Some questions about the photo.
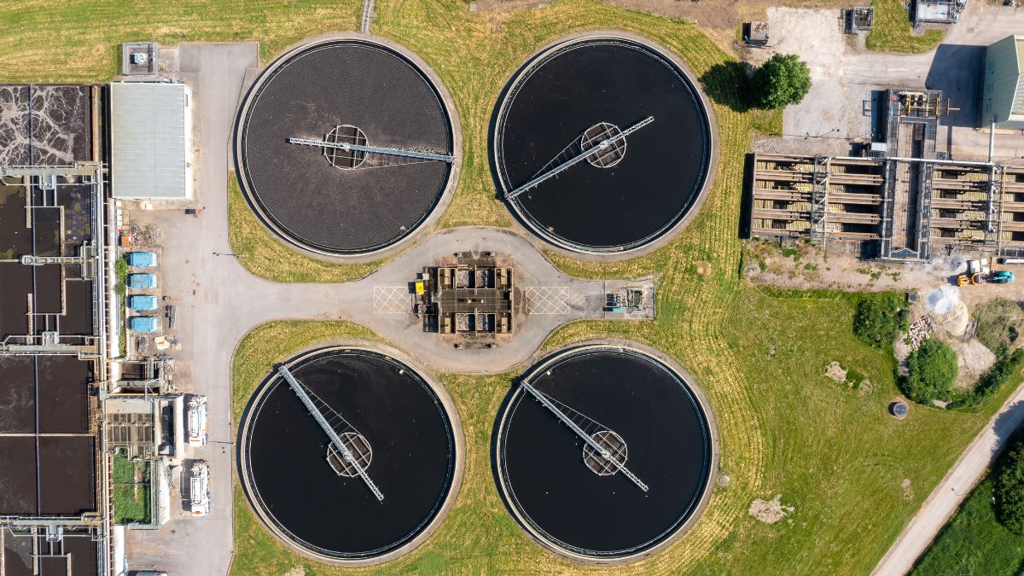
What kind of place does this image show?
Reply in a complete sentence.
The area seen from above is an industrial area.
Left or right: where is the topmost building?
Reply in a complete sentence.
You can find the topmost building on the right side of the picture.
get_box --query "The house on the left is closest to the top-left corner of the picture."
[112,82,192,200]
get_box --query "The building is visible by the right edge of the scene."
[980,32,1024,127]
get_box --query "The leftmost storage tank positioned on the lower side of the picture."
[237,337,467,567]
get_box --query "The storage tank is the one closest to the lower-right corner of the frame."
[488,334,719,565]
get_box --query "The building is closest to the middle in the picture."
[423,265,513,334]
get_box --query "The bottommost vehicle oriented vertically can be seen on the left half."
[192,461,213,514]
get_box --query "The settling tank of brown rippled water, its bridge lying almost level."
[233,32,463,263]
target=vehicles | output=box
[192,461,213,514]
[141,571,167,576]
[978,273,1015,284]
[190,394,211,446]
[957,273,983,285]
